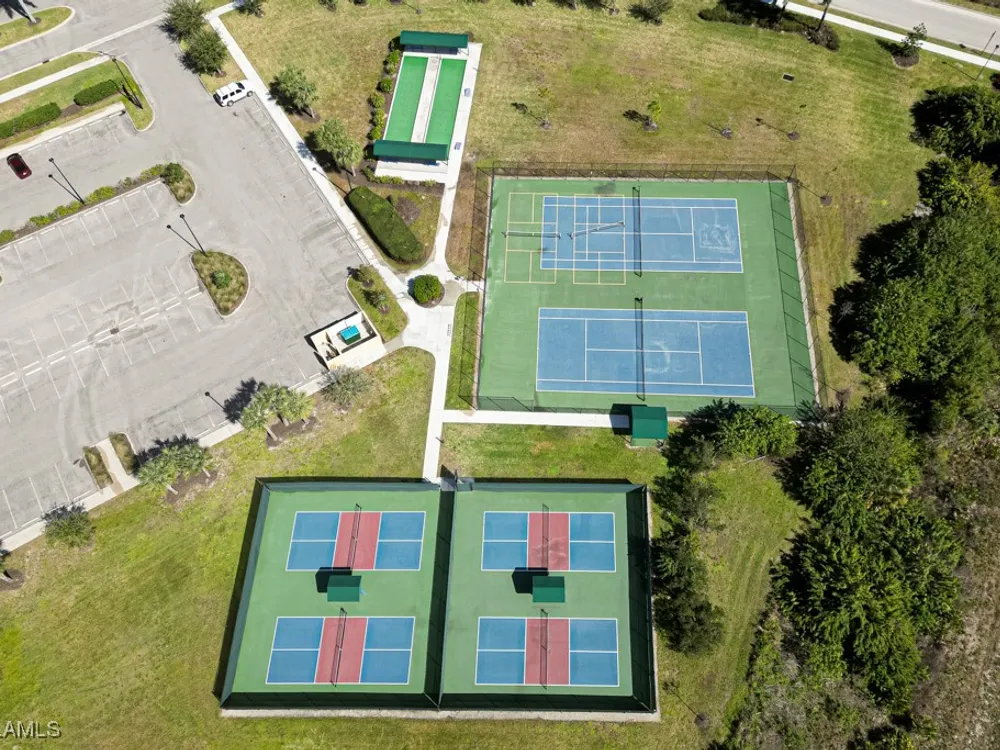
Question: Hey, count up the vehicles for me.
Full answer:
In total, 2 vehicles can be seen.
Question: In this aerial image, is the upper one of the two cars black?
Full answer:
No, the upper one of the two cars is white.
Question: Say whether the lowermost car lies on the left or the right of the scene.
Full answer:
You can find the lowermost car on the left side of the picture.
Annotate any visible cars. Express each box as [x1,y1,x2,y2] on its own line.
[6,150,33,181]
[215,78,255,104]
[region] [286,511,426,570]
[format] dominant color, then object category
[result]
blue sports court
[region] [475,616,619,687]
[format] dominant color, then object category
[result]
blue sports court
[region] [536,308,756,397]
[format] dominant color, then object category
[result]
blue tennis court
